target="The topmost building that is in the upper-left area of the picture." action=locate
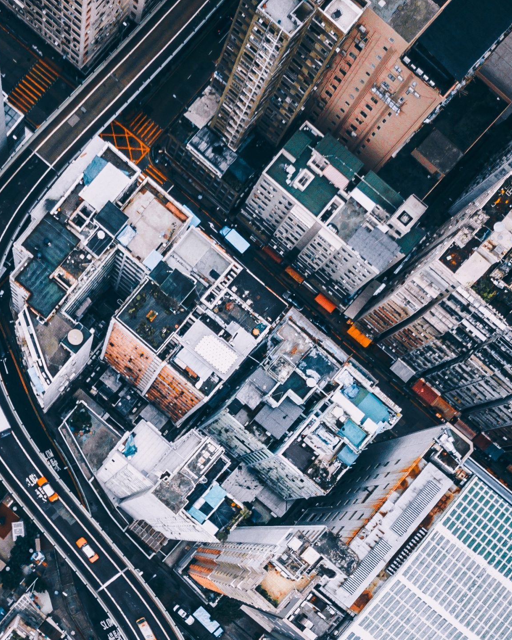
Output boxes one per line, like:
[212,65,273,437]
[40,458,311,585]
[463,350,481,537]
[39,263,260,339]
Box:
[0,0,148,71]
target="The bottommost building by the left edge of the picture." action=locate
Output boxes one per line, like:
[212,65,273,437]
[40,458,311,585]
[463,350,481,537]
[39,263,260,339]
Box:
[0,592,60,640]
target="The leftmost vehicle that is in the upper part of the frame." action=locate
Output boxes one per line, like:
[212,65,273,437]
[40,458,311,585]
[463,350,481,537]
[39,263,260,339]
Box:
[190,209,214,233]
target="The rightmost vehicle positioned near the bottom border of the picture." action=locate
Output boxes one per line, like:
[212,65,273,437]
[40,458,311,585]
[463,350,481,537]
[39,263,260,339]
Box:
[187,602,224,640]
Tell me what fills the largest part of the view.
buildings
